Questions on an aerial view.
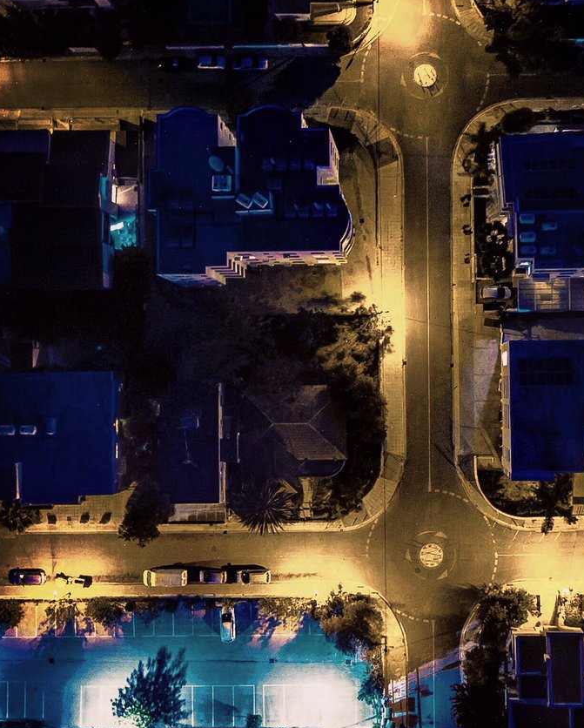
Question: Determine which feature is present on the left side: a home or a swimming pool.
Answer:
home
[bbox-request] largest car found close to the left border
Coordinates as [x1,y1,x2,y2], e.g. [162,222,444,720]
[10,570,47,587]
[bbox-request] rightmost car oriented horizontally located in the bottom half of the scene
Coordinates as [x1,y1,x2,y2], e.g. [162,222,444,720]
[236,568,272,585]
